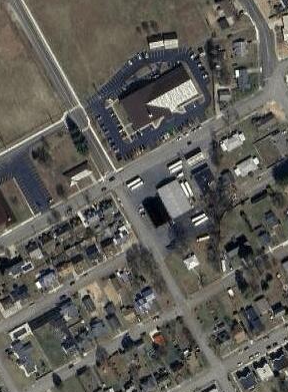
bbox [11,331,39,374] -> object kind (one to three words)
house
